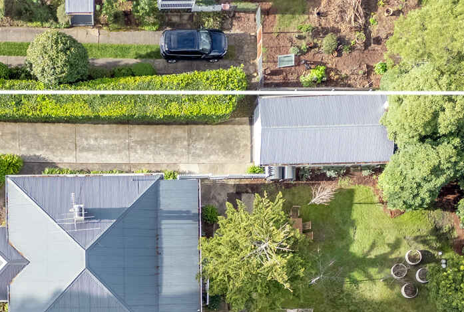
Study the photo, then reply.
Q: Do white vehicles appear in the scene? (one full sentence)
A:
No, I find no white vehicle anywhere in the image.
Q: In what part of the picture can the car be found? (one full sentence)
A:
The car appears toward the top of the photo.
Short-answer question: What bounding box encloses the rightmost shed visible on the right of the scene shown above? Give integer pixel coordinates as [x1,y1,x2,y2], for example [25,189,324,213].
[253,95,397,167]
